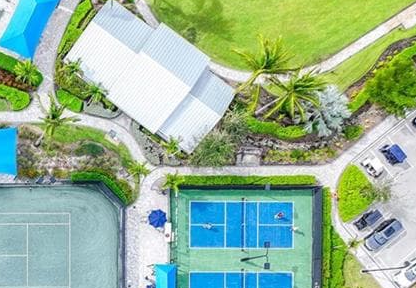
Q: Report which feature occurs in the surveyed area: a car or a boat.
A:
car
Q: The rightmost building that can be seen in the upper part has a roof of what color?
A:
white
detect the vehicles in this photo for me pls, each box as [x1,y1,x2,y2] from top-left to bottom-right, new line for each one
[363,158,388,178]
[383,146,410,165]
[364,219,407,250]
[355,209,387,231]
[396,266,416,288]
